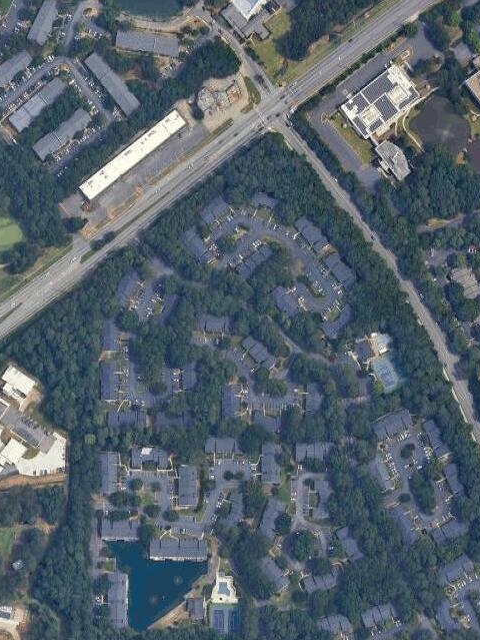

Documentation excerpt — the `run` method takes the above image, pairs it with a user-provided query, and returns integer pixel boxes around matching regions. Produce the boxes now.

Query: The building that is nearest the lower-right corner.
[436,598,460,633]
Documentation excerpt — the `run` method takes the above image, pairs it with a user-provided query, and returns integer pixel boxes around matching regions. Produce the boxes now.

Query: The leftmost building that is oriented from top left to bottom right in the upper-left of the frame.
[85,50,140,116]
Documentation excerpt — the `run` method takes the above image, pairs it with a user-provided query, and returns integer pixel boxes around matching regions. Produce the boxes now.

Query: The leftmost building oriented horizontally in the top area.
[114,28,181,58]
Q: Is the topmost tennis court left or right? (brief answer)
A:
right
